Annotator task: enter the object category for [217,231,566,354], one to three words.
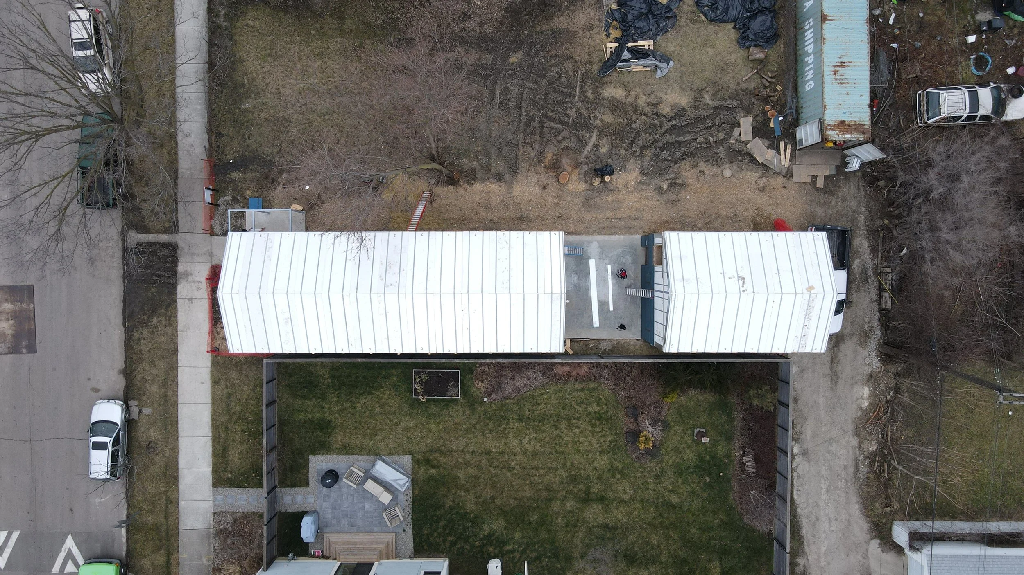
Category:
house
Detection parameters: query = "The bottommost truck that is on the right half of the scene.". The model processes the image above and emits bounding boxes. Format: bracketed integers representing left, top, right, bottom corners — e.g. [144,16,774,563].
[808,221,855,333]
